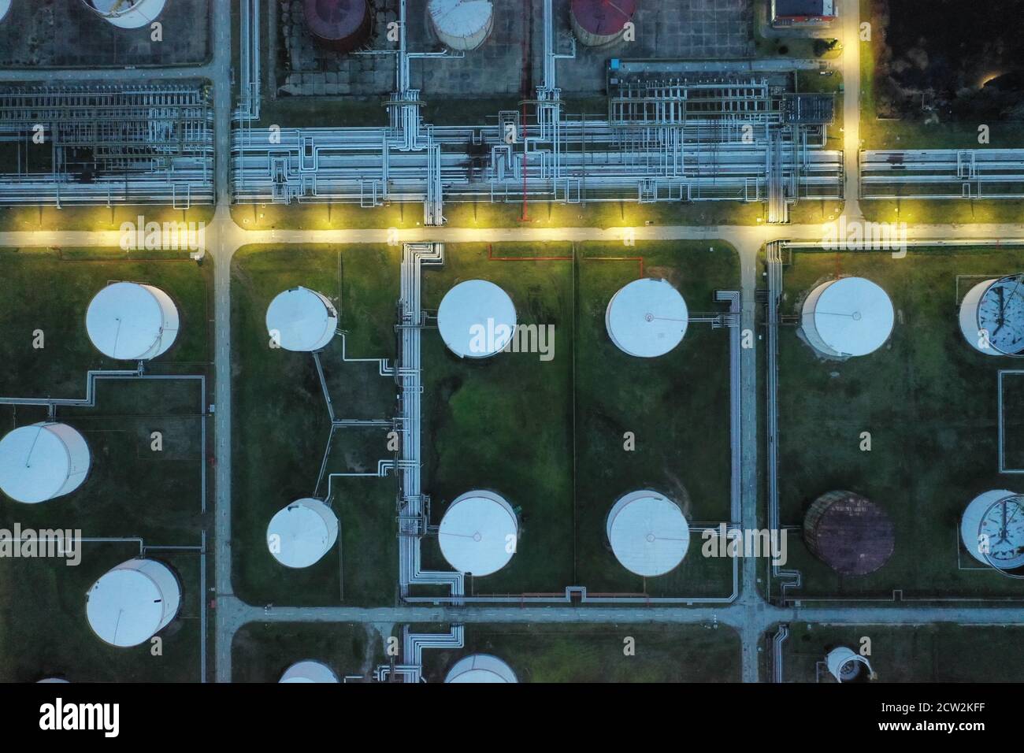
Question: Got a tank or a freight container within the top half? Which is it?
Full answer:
It is a tank that can be seen within the top half.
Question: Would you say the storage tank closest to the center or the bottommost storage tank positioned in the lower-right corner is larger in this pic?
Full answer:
The storage tank closest to the center takes up more space than the bottommost storage tank positioned in the lower-right corner does.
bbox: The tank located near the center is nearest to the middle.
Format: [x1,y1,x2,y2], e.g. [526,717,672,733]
[437,279,518,359]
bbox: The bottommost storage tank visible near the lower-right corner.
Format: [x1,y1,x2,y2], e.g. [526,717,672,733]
[824,644,876,691]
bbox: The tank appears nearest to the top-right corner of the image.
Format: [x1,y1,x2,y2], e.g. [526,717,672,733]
[958,273,1024,357]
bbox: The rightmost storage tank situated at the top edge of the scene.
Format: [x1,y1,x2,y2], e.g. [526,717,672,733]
[567,0,637,48]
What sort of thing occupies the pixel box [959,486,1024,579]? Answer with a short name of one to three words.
storage tank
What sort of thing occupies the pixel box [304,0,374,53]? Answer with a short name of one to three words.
storage tank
